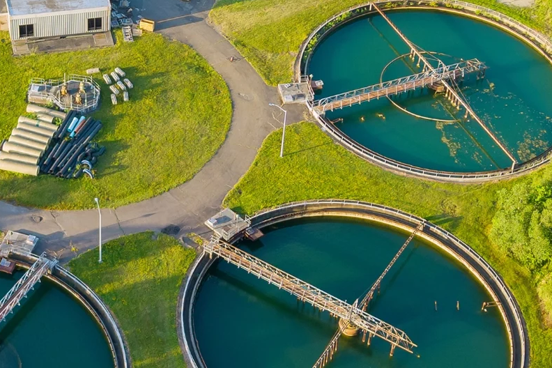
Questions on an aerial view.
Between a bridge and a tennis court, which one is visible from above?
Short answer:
bridge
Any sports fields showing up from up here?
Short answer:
No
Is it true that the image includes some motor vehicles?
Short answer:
No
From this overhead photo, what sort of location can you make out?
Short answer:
industrial area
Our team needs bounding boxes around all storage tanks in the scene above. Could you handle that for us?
[0,225,127,368]
[182,199,526,368]
[280,0,552,181]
